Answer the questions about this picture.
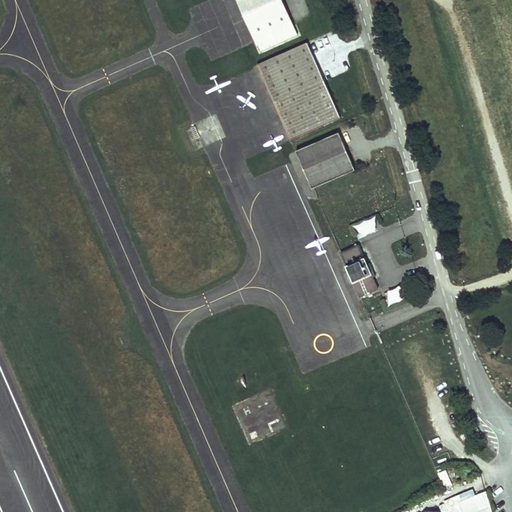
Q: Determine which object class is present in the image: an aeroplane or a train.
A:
aeroplane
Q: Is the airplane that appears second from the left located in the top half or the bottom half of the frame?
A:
top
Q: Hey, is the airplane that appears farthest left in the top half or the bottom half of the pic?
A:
top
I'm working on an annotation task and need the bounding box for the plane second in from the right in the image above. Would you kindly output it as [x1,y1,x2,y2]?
[262,134,284,153]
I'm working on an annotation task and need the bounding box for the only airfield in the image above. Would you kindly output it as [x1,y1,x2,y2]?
[0,0,368,512]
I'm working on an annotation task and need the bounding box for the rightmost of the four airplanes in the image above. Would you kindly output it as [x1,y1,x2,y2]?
[304,236,330,256]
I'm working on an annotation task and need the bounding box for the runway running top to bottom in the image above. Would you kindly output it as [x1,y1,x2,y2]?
[0,340,73,512]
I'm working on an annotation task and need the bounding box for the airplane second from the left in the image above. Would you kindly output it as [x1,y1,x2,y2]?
[236,90,257,111]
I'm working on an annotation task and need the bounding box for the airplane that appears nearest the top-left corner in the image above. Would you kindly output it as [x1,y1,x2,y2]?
[206,74,231,94]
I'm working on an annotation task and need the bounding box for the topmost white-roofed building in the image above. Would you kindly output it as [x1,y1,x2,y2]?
[235,0,300,55]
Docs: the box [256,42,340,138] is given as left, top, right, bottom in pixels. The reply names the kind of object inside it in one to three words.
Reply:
hangar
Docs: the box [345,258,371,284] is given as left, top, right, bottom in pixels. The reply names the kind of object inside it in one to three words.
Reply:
building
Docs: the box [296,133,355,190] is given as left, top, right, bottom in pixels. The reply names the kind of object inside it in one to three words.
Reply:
hangar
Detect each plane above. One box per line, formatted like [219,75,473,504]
[236,90,257,111]
[304,236,330,256]
[262,134,284,153]
[206,74,231,94]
